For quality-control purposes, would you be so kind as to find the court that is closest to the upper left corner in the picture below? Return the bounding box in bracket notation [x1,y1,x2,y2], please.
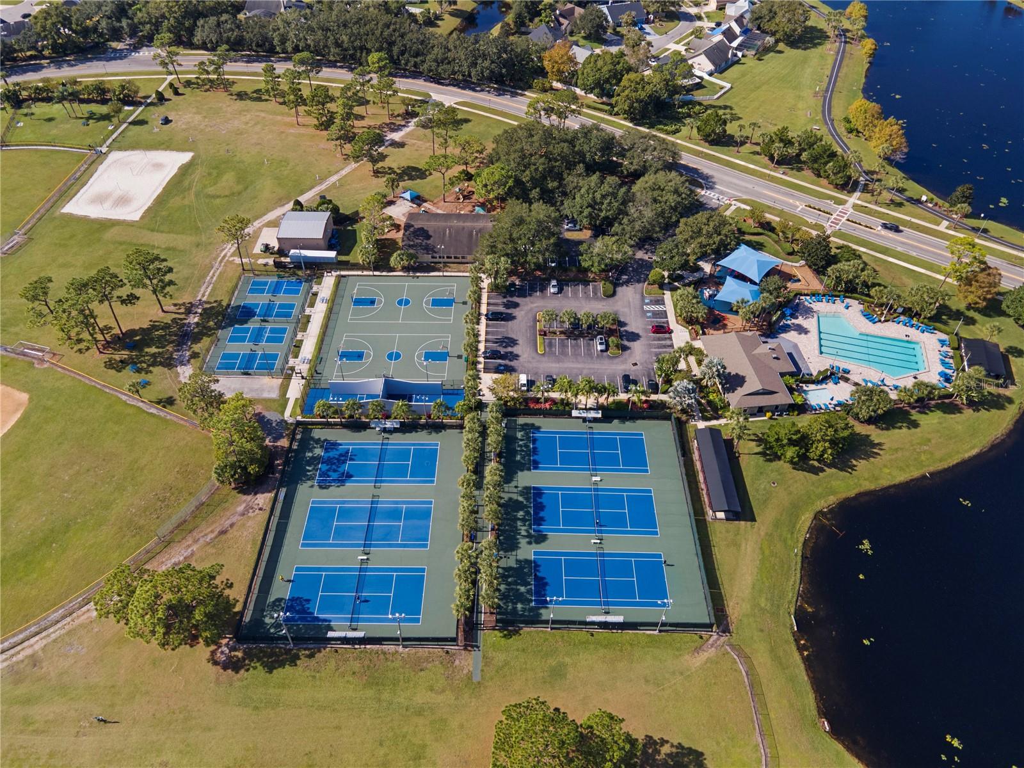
[61,151,194,221]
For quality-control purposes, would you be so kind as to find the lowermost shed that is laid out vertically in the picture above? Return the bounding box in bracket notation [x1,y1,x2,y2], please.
[692,427,740,519]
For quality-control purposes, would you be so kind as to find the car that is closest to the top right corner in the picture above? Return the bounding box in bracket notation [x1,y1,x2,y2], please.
[881,218,900,230]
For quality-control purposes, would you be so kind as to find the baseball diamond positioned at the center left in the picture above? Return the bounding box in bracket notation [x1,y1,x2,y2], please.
[0,384,29,436]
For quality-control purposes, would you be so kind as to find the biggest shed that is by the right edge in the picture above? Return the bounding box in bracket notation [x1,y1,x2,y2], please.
[960,336,1005,384]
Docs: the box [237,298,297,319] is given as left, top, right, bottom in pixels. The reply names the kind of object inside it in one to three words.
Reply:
sports court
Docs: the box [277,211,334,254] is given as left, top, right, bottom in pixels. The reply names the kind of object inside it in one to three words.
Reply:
shed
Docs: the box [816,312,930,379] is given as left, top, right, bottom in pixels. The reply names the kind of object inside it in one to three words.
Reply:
swimming pool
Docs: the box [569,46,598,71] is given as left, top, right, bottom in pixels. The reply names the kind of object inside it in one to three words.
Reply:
house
